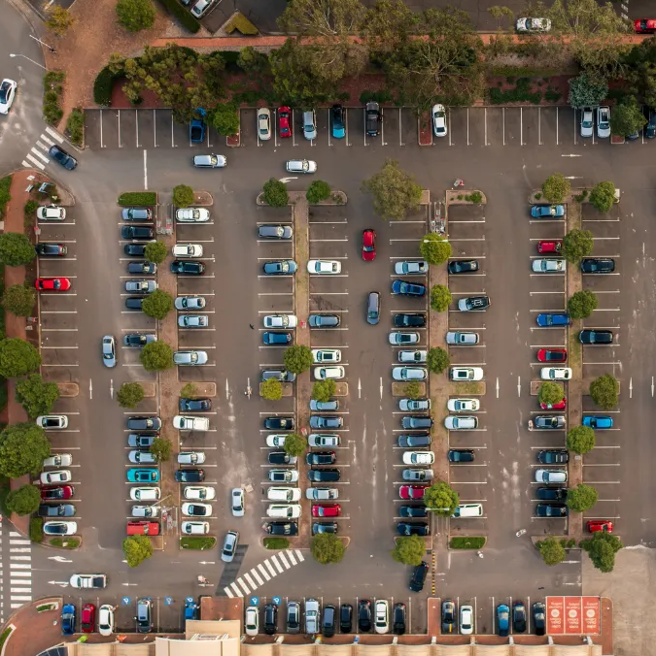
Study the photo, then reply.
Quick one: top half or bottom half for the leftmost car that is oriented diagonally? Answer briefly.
top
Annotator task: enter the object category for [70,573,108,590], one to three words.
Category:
vehicle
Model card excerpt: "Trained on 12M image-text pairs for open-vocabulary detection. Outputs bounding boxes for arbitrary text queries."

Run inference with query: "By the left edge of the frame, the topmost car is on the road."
[0,77,17,115]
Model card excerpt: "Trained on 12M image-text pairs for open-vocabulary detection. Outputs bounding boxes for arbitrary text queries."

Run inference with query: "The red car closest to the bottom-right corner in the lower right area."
[585,519,613,533]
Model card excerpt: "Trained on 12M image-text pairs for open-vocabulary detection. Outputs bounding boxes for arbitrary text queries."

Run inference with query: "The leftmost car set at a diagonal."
[46,141,79,171]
